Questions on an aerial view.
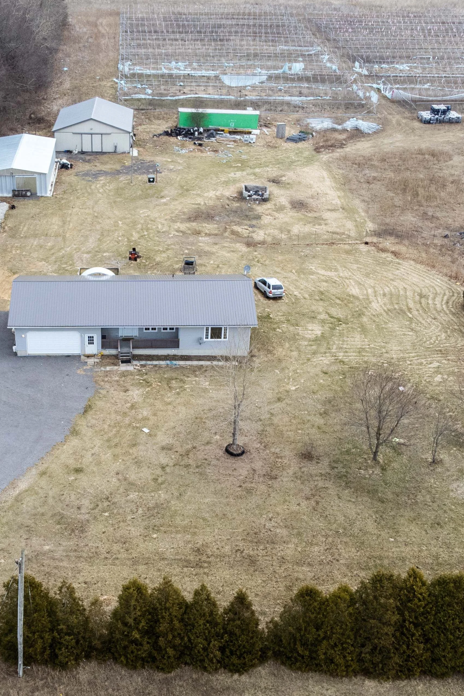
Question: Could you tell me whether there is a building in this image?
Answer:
Yes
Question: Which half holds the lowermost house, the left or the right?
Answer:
left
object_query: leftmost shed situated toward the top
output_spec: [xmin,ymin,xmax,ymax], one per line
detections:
[0,133,64,195]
